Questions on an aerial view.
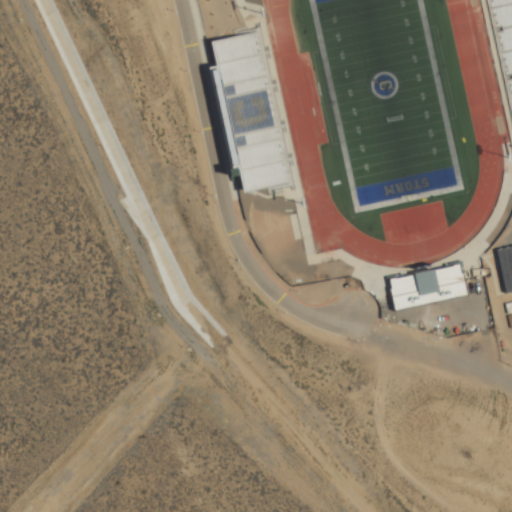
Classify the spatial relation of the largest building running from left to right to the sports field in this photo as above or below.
below it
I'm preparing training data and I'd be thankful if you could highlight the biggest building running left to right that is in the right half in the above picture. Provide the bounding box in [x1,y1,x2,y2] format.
[390,264,466,310]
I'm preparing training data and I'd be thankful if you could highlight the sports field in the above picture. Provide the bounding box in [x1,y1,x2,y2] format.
[289,0,478,242]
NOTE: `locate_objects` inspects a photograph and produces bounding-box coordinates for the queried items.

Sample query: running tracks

[263,0,511,268]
